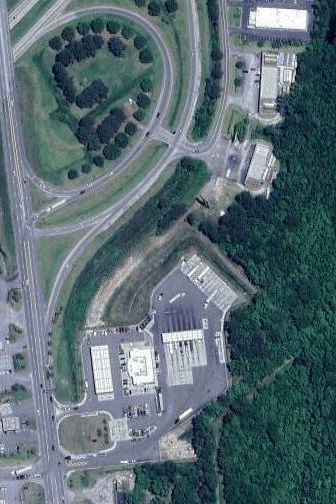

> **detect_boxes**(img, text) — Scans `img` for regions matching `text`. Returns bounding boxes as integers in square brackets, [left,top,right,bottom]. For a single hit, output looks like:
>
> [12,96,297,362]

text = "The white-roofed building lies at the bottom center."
[127,349,155,387]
